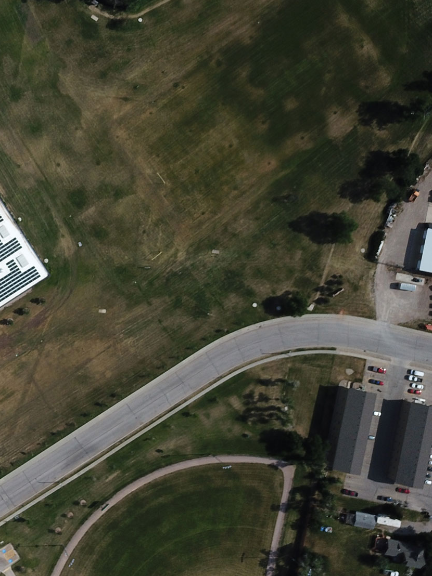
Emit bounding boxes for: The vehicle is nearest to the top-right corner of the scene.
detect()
[410,189,422,203]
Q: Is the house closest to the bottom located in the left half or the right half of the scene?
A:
right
